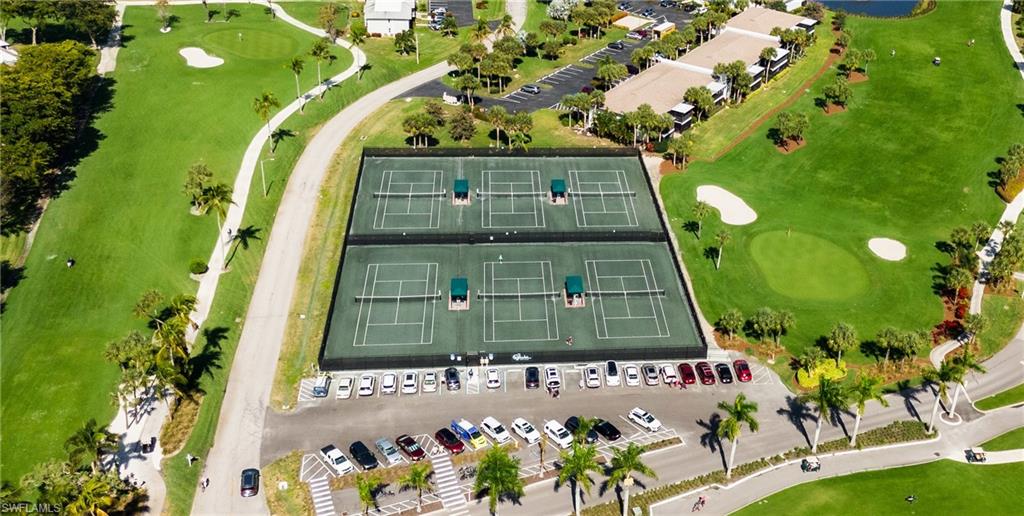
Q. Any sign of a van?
Yes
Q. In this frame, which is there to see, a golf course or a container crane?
golf course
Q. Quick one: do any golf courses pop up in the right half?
Yes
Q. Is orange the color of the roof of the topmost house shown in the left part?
No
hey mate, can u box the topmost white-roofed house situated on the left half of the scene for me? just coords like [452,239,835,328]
[361,0,419,36]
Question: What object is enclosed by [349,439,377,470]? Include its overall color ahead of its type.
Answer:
black car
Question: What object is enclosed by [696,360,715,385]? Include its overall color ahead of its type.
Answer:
red car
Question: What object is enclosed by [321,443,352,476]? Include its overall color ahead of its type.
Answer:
white truck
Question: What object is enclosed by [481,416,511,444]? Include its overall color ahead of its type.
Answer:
white car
